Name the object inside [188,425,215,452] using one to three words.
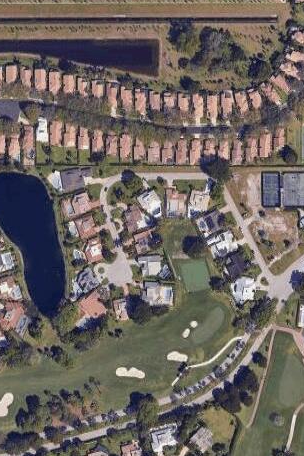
house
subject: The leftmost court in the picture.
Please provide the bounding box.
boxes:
[263,173,280,206]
